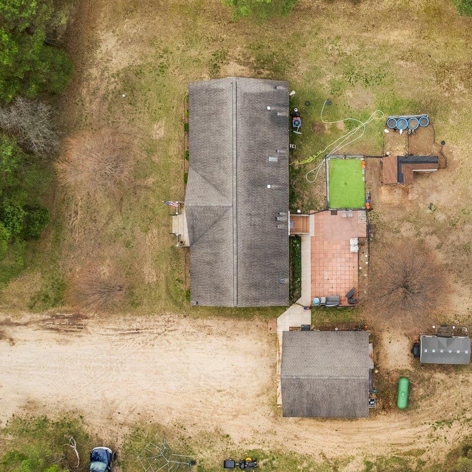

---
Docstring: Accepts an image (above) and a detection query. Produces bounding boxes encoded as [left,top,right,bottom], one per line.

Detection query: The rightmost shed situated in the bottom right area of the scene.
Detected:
[419,333,471,363]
